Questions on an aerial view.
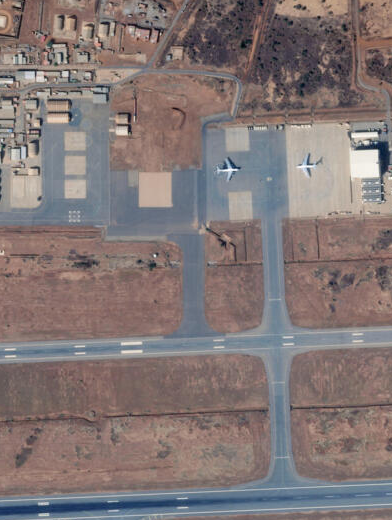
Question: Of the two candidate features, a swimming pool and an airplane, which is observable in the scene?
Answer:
airplane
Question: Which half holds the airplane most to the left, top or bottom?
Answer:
top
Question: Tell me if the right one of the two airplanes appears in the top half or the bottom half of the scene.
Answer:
top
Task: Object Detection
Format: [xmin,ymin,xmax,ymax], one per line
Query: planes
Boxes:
[216,159,240,181]
[296,154,319,178]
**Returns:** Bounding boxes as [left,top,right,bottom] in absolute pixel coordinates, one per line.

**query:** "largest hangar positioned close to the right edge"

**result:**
[352,149,380,177]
